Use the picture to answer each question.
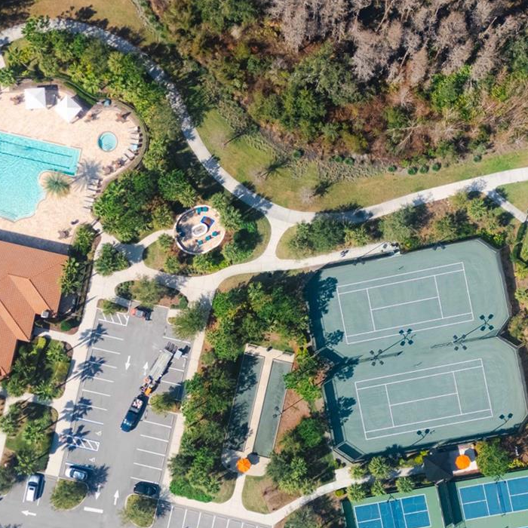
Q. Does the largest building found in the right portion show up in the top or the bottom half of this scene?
bottom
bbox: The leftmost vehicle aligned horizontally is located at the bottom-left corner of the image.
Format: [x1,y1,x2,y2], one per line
[64,467,88,481]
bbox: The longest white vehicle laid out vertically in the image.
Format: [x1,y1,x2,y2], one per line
[24,474,39,502]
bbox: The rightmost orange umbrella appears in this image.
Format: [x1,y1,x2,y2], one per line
[455,454,469,469]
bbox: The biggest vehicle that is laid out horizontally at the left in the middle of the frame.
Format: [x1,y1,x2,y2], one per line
[131,308,152,321]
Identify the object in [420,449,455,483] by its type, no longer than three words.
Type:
building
